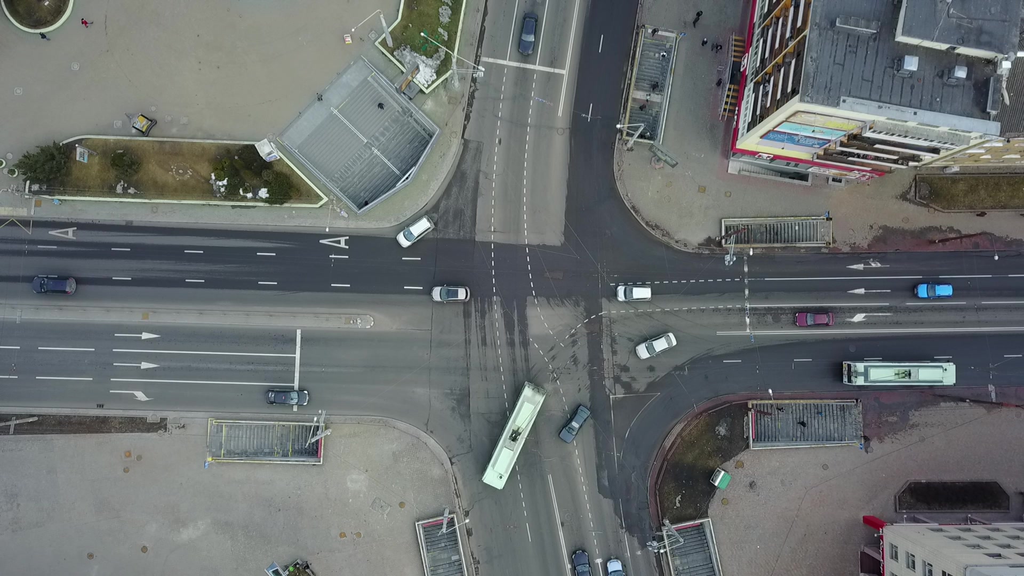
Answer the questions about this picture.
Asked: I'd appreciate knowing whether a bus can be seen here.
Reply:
Yes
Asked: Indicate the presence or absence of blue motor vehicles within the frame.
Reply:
Yes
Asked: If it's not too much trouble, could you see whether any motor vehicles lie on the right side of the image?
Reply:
Yes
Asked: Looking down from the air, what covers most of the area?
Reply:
paved ground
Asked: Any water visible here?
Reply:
No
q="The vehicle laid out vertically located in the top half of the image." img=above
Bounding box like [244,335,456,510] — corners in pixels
[518,13,537,56]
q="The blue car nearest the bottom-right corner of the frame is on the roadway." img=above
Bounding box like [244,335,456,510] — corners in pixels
[912,281,952,299]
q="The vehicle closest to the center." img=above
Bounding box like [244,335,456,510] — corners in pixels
[432,283,470,303]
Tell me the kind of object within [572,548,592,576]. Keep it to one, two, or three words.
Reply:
car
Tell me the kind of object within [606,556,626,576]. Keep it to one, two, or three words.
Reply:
car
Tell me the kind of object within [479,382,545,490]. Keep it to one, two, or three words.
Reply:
bus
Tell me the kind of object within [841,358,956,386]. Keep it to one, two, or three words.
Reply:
bus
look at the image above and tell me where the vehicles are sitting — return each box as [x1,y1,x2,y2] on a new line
[616,283,651,302]
[841,358,956,386]
[560,405,590,443]
[266,387,311,407]
[794,309,834,328]
[572,548,592,576]
[606,556,626,576]
[432,283,470,303]
[397,215,434,248]
[912,281,952,299]
[479,382,545,490]
[518,13,537,56]
[635,331,676,360]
